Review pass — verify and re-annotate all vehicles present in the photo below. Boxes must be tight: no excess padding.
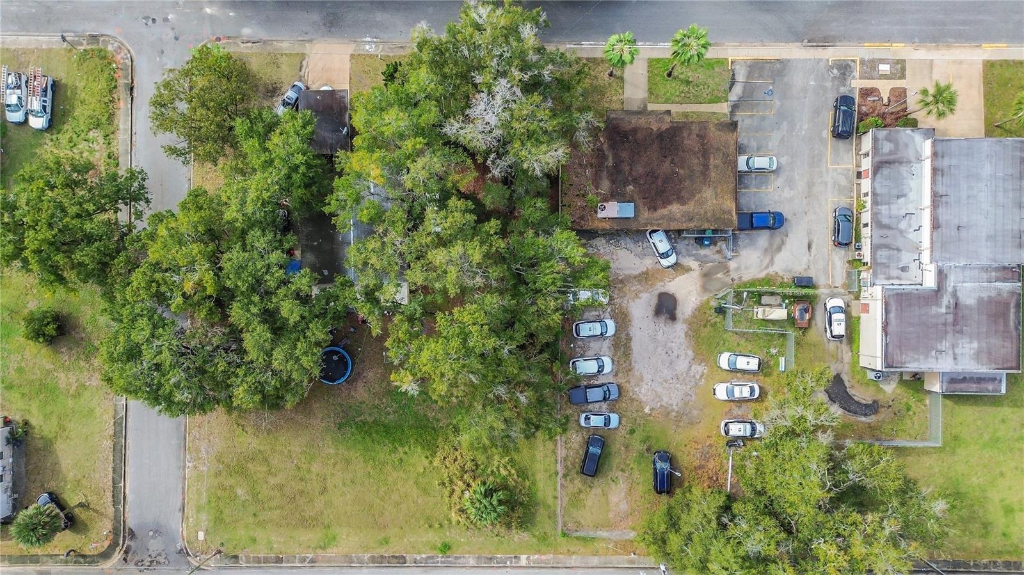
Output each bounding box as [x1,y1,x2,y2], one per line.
[720,418,763,440]
[569,383,619,404]
[577,286,608,307]
[738,210,782,231]
[645,229,678,271]
[27,75,56,130]
[579,411,619,431]
[275,77,309,119]
[569,355,613,376]
[580,433,604,477]
[725,439,744,448]
[831,206,853,248]
[716,352,761,372]
[652,450,672,494]
[738,154,776,174]
[831,96,856,141]
[822,296,846,340]
[572,318,615,339]
[40,488,74,529]
[319,85,335,90]
[2,70,33,124]
[713,381,758,401]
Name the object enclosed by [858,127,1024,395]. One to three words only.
building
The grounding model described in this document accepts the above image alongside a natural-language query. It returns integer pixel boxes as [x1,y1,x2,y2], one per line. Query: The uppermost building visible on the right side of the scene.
[566,110,738,229]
